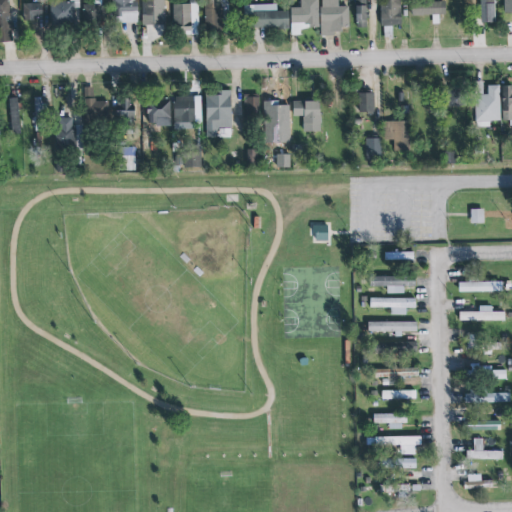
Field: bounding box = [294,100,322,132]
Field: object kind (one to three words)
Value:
house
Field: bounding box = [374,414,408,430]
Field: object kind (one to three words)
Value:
house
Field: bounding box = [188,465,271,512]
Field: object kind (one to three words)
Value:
soccer field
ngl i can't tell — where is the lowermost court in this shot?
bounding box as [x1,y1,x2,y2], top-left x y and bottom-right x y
[284,302,340,338]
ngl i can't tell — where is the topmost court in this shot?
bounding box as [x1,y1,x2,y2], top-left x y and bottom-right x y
[284,267,340,302]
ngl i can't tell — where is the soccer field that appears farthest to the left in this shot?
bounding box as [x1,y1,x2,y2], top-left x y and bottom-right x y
[17,402,138,512]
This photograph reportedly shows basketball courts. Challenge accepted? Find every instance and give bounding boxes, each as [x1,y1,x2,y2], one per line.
[284,302,340,338]
[284,267,340,302]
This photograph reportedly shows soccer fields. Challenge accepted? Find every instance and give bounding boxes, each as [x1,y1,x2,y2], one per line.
[188,465,271,512]
[78,220,238,378]
[17,402,138,512]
